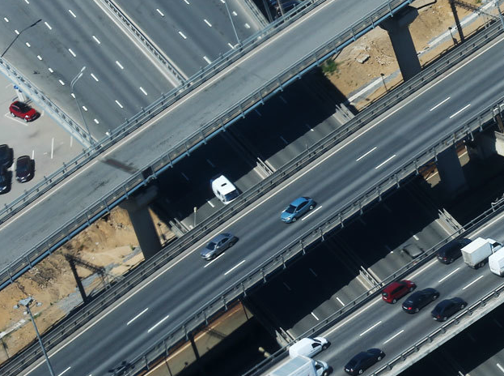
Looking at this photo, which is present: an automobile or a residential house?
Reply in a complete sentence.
It is an automobile that can be seen here.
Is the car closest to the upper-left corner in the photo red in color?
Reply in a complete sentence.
Yes, the car closest to the upper-left corner appears red.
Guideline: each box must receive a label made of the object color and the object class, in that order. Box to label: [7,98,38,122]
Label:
red car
